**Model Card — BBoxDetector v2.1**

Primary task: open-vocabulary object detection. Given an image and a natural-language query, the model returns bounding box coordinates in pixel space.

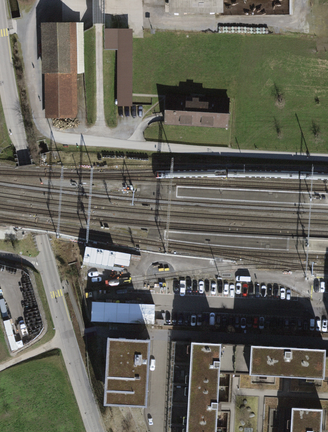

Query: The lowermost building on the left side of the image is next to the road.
[103,336,150,407]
